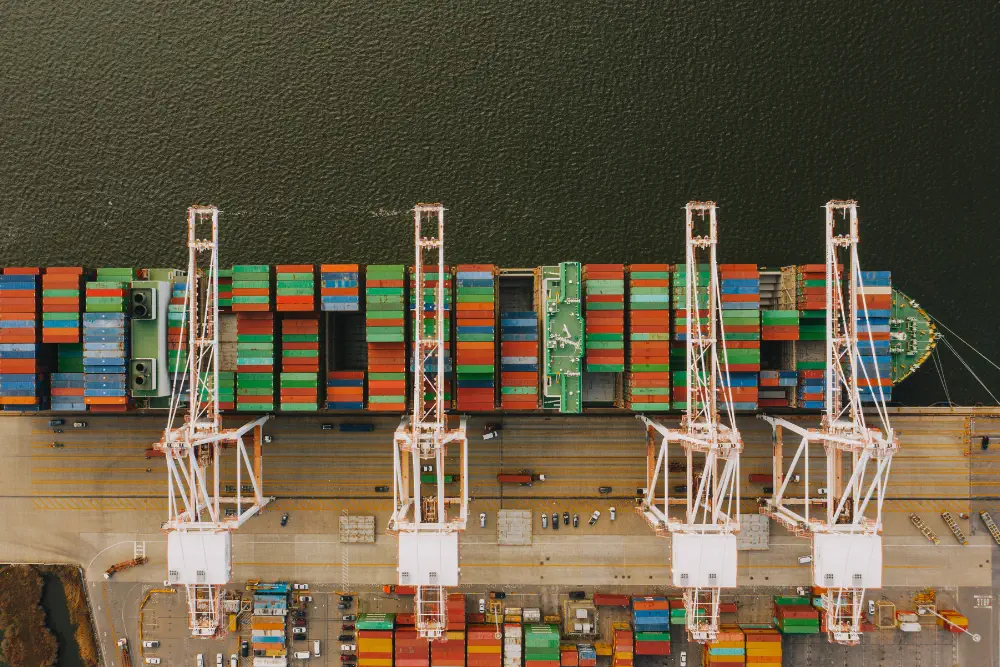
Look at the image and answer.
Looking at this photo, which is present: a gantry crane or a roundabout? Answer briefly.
gantry crane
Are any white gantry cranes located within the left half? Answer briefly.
Yes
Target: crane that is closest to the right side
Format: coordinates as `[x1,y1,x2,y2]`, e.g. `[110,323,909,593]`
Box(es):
[754,200,901,642]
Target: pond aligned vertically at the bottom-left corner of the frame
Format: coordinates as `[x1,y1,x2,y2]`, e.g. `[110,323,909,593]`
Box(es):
[42,566,78,667]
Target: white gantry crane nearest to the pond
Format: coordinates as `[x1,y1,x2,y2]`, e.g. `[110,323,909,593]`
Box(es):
[155,206,277,642]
